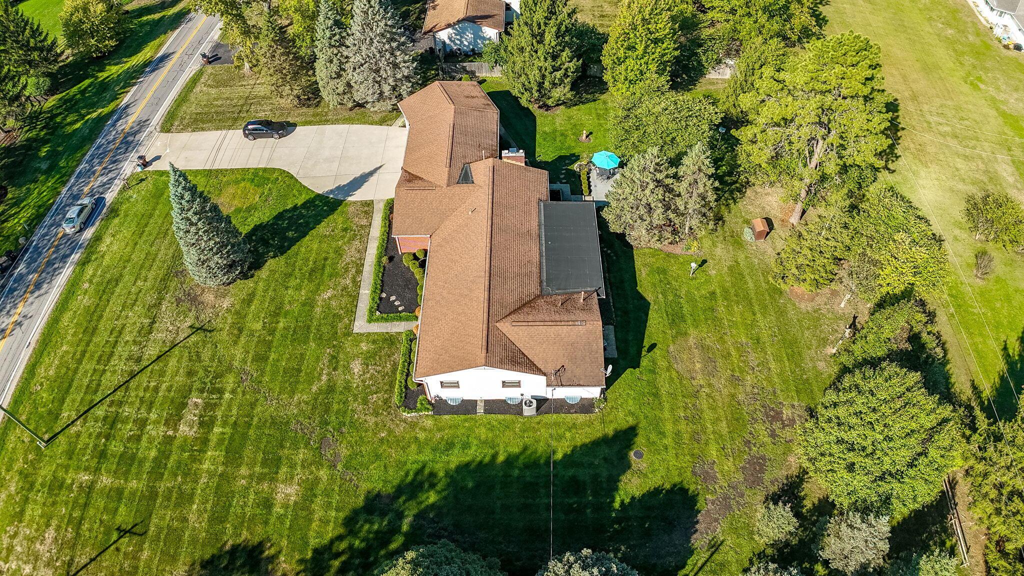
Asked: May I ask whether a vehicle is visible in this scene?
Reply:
Yes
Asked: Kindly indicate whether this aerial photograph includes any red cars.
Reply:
No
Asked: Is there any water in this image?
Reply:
No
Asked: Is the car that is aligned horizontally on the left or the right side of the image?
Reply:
left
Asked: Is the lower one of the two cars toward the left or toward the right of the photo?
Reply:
left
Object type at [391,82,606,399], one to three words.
house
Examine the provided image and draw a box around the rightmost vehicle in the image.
[237,117,286,140]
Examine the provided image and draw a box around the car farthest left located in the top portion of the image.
[52,192,96,233]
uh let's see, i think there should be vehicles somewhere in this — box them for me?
[52,192,96,233]
[237,117,286,140]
